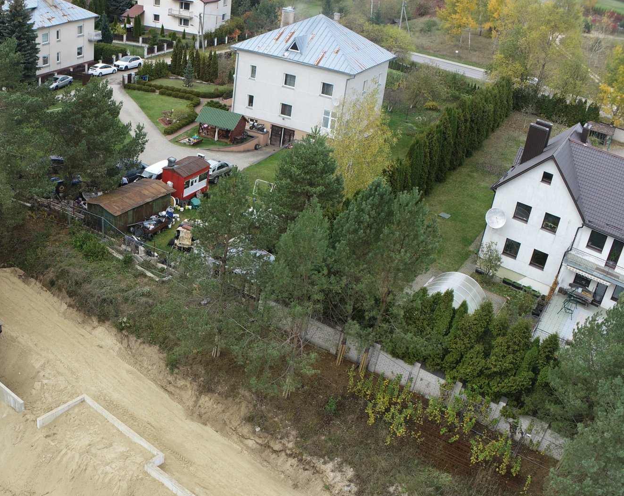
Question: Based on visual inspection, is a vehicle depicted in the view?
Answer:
Yes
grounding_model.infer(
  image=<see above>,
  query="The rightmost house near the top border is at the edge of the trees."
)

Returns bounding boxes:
[231,5,393,147]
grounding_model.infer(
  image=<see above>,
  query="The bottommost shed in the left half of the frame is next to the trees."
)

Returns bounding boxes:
[83,176,176,233]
